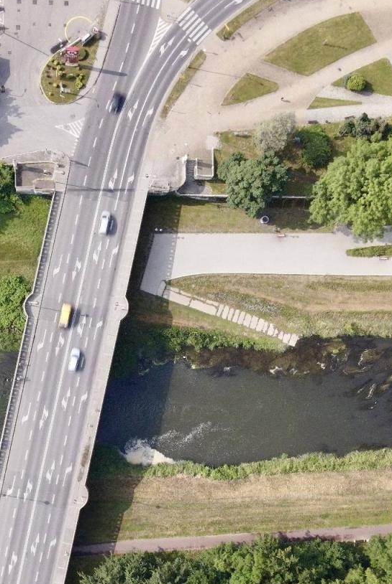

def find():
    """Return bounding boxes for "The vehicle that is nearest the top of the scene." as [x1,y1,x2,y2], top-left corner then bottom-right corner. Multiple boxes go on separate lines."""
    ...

[109,91,122,114]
